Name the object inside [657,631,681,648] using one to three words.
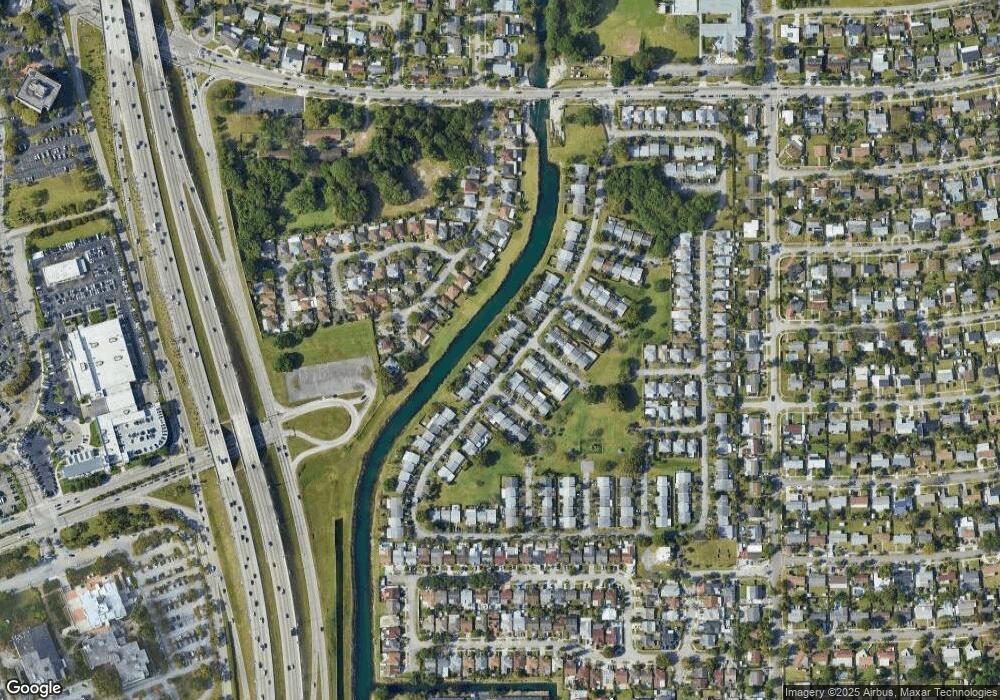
house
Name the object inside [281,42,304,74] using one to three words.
house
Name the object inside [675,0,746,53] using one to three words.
building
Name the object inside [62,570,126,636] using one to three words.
building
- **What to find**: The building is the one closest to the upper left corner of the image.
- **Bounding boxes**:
[11,68,61,113]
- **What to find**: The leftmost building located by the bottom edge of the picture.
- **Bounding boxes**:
[11,624,66,691]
